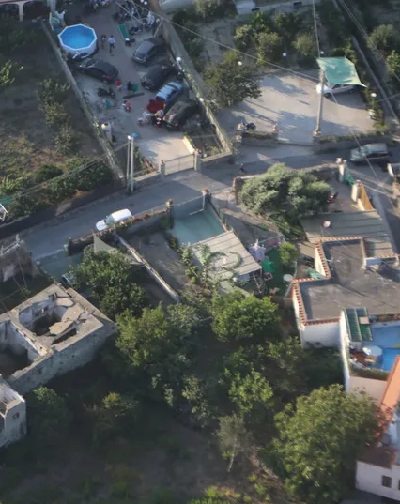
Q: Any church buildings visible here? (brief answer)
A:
No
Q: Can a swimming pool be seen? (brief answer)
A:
Yes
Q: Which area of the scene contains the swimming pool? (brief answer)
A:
top left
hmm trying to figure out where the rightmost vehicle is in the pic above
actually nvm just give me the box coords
[347,141,393,165]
